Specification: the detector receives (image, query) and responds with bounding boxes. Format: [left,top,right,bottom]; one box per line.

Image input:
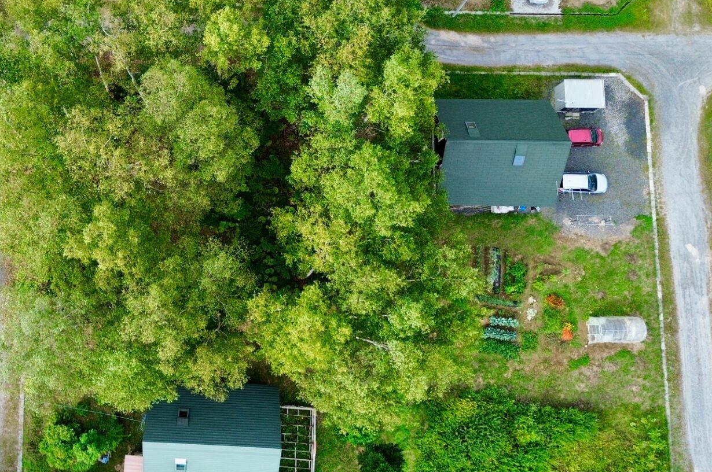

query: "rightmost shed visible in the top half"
[554,79,605,112]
